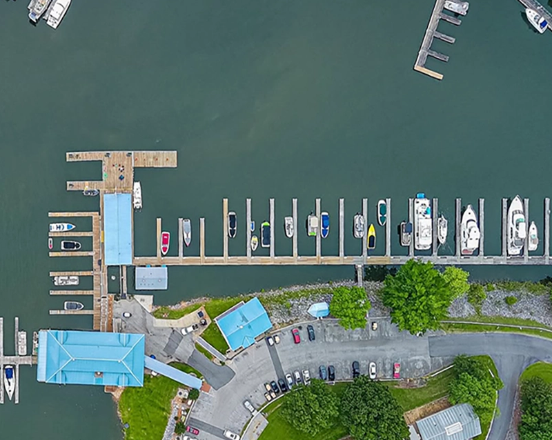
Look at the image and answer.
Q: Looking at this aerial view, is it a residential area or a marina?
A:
marina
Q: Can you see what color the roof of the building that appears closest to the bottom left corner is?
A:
blue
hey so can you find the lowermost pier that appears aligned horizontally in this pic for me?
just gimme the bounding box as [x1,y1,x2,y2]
[134,197,552,265]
